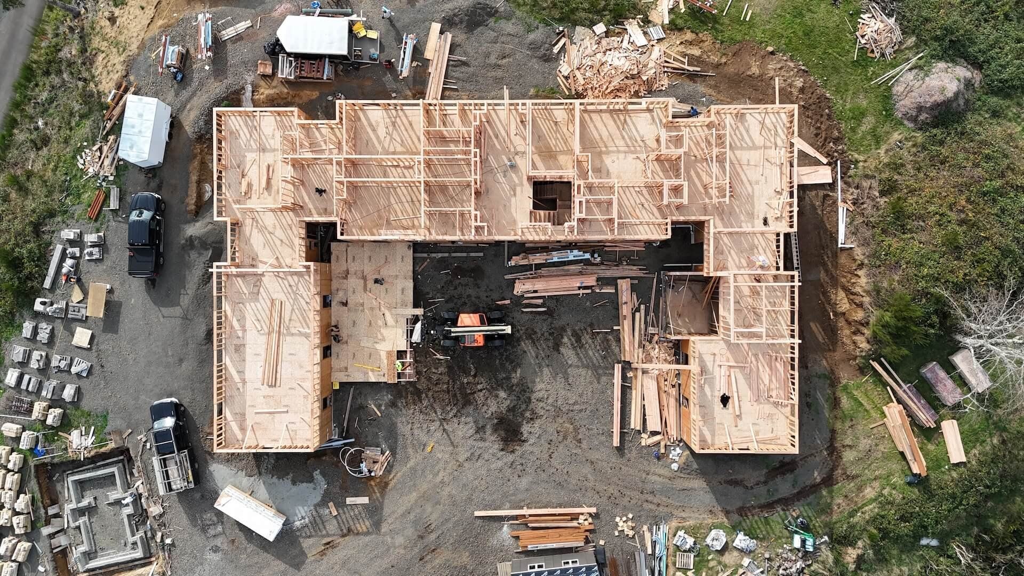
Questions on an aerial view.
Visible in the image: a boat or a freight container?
freight container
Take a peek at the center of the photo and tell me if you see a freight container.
No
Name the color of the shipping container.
white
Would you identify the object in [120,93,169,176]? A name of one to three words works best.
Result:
trailer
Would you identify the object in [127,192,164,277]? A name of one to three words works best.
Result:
truck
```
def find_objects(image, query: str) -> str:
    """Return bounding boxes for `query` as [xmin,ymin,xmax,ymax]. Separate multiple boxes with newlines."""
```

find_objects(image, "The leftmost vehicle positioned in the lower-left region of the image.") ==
[155,407,200,495]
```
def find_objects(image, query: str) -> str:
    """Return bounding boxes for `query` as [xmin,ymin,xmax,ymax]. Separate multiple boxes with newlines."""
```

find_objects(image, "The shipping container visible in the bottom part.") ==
[214,483,289,541]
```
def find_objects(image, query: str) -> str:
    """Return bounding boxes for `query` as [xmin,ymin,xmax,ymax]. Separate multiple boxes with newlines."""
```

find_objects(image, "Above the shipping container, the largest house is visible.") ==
[208,78,801,453]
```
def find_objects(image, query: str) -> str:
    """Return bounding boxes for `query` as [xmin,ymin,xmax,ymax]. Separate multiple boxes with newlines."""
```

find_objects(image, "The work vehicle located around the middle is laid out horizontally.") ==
[409,313,511,347]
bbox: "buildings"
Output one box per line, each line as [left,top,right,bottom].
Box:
[208,78,801,453]
[509,551,605,576]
